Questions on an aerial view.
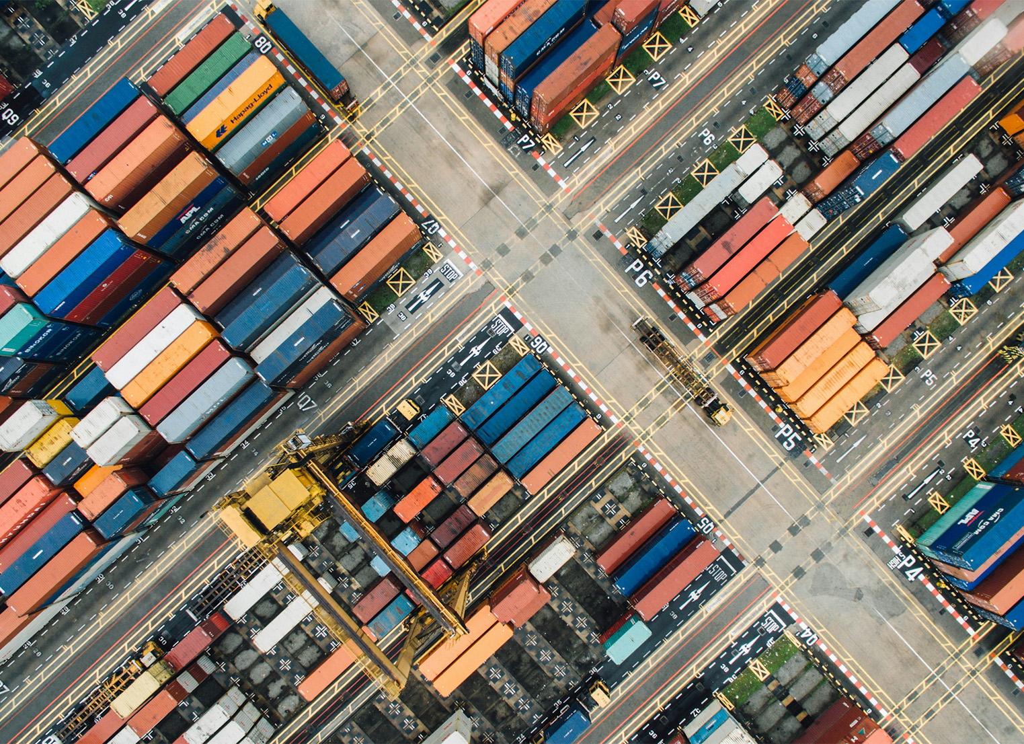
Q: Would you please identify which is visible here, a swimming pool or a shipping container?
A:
shipping container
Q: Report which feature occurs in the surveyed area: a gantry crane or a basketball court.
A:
gantry crane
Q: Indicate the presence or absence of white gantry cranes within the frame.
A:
No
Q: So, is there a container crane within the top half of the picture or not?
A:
No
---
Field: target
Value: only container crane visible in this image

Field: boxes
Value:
[212,418,490,707]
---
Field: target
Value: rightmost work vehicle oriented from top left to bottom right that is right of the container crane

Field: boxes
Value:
[698,390,739,431]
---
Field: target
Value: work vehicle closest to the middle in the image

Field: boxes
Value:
[388,395,425,434]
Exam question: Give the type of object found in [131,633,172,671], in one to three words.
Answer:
work vehicle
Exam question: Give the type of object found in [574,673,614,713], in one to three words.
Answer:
work vehicle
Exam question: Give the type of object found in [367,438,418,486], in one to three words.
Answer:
shipping container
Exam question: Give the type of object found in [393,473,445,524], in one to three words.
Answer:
shipping container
